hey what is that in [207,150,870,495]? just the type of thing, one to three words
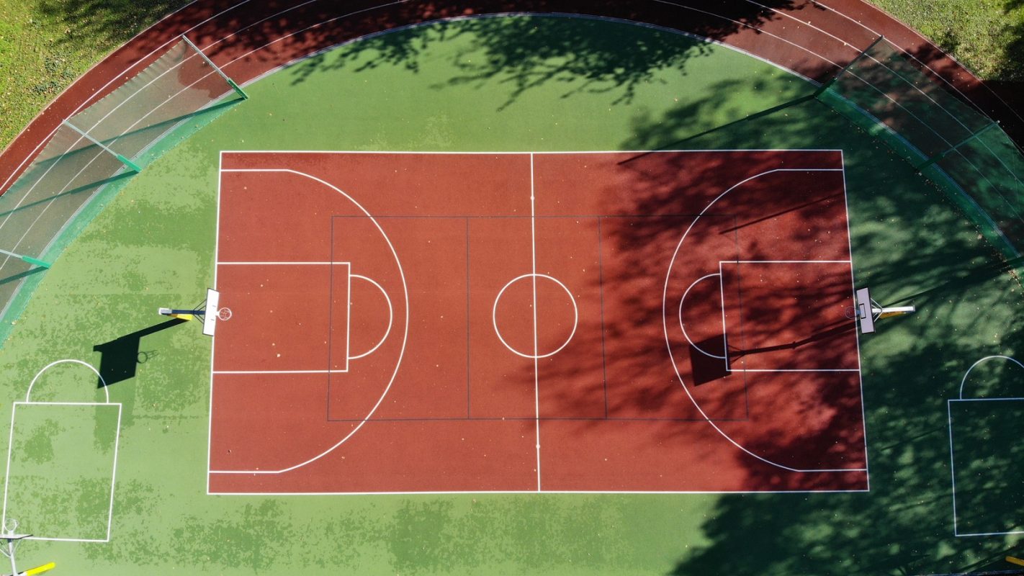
basketball court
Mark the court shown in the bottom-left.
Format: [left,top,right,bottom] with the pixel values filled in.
[1,361,121,542]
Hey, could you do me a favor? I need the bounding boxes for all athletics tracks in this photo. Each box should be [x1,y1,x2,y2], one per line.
[0,0,1024,321]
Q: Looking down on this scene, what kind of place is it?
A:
sports ground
